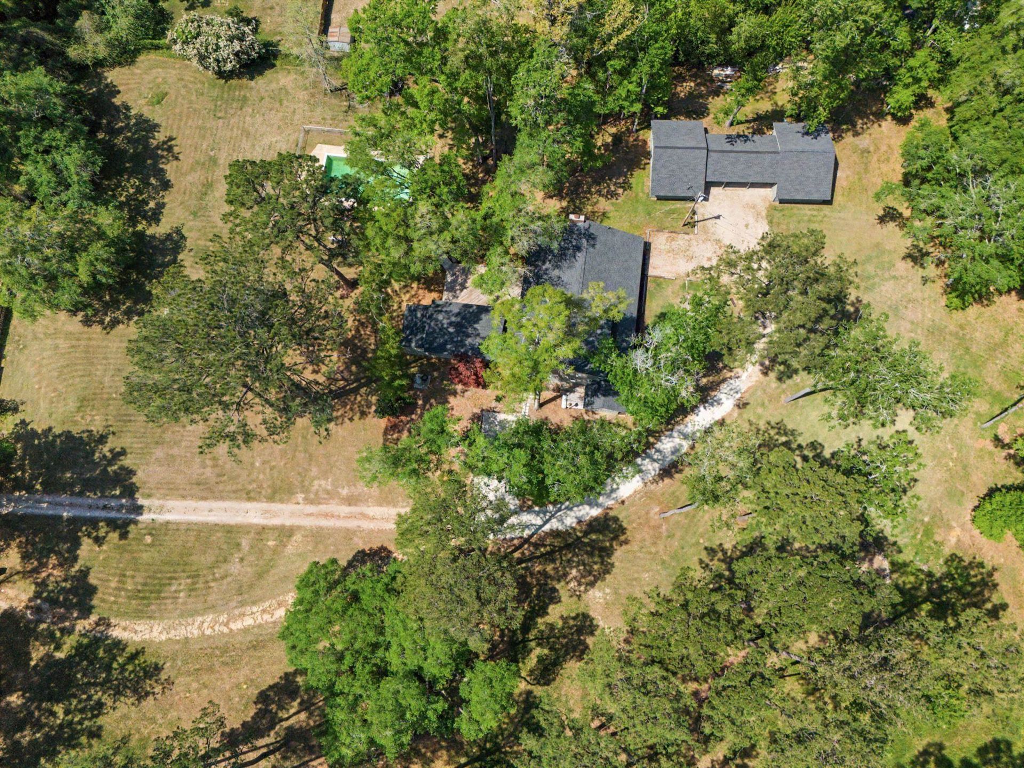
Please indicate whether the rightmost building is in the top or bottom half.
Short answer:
top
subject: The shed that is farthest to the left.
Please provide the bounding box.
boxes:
[327,24,354,52]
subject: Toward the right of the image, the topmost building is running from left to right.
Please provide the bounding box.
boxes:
[648,120,836,206]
